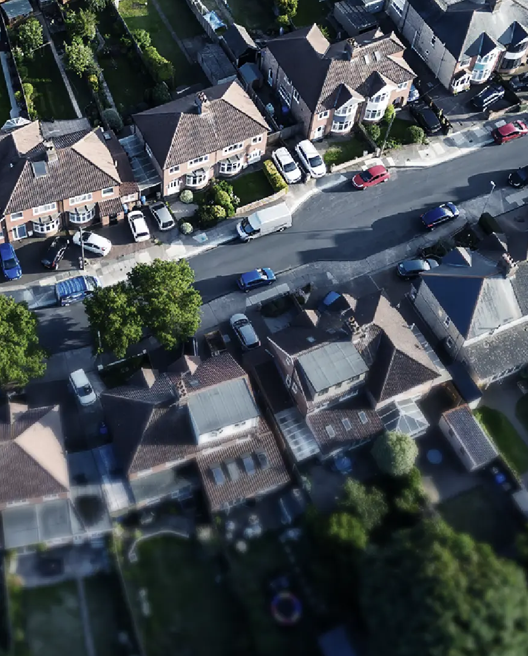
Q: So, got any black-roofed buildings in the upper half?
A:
Yes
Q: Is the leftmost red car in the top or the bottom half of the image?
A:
top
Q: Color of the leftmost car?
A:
blue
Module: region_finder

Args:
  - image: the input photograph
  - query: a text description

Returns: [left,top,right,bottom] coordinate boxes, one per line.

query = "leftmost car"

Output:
[0,239,22,282]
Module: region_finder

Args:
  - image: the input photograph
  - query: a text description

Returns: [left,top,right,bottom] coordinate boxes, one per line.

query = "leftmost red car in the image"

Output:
[351,162,393,189]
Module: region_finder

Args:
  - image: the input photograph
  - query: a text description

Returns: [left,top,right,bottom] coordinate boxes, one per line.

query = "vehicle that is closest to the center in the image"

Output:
[227,311,263,349]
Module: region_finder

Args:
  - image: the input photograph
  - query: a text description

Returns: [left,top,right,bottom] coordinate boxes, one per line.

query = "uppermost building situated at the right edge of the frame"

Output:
[406,0,528,89]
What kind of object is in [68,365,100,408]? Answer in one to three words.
car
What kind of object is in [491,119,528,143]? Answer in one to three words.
car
